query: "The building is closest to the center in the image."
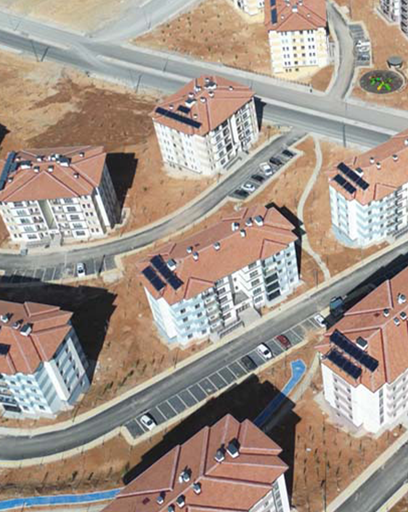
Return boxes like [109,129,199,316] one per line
[135,202,302,346]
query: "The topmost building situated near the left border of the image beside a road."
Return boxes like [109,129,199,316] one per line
[0,146,118,250]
